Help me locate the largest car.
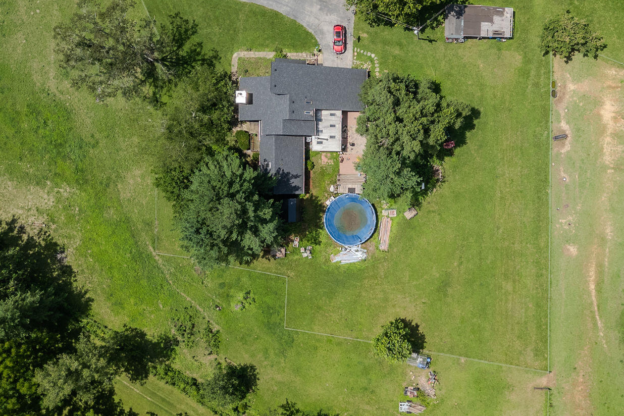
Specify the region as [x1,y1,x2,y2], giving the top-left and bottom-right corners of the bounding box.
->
[332,24,347,55]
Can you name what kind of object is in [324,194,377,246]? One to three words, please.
swimming pool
